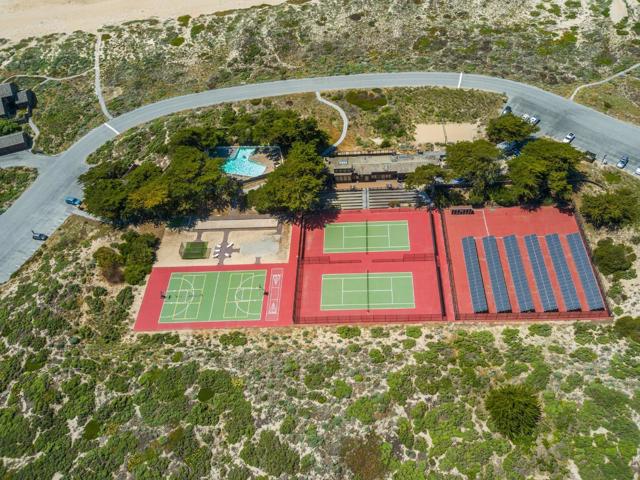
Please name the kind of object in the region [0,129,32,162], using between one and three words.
building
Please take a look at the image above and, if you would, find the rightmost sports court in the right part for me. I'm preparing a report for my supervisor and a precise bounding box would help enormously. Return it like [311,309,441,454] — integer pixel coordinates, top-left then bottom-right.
[444,204,615,322]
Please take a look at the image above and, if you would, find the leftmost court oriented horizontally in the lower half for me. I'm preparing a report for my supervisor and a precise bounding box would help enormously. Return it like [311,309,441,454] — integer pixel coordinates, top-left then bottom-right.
[134,262,299,332]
